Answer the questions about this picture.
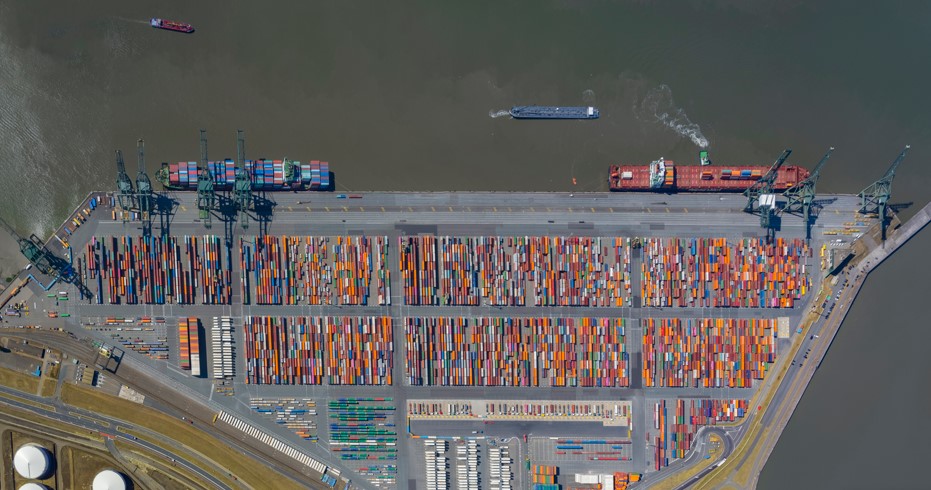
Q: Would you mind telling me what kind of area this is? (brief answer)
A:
port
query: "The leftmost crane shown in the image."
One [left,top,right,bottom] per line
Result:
[0,224,64,284]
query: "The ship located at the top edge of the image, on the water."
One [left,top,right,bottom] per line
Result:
[151,18,194,34]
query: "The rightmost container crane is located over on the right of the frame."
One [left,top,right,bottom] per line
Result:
[856,145,916,235]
